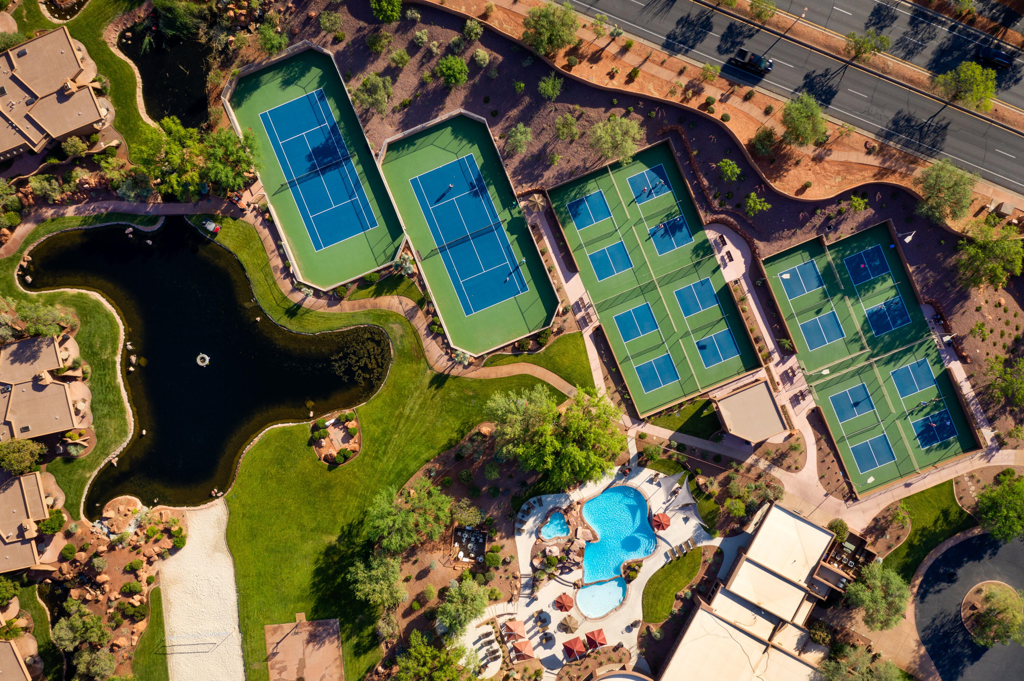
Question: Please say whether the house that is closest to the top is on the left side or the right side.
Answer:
left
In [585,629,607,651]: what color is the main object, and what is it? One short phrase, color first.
red umbrella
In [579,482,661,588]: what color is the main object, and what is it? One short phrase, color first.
blue swimming pool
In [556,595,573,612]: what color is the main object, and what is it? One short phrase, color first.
red umbrella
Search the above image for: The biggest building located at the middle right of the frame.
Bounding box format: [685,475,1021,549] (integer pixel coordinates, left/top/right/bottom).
[709,378,787,443]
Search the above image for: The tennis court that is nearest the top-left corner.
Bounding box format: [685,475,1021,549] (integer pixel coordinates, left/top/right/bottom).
[227,45,406,290]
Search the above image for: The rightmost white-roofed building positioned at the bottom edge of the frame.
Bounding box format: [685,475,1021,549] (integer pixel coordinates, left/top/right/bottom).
[652,500,853,681]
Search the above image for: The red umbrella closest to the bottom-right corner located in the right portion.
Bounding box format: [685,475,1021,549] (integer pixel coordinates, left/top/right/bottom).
[653,514,670,530]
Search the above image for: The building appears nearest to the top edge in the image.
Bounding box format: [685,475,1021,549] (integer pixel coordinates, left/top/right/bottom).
[0,25,113,160]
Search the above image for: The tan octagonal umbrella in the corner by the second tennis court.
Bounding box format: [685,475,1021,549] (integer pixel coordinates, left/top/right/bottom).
[529,194,546,211]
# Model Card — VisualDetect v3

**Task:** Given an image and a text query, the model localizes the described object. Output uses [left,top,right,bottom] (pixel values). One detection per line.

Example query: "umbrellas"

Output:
[556,595,573,612]
[529,194,546,211]
[561,617,578,633]
[509,641,534,662]
[563,637,585,660]
[585,629,607,651]
[653,514,670,530]
[502,621,525,640]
